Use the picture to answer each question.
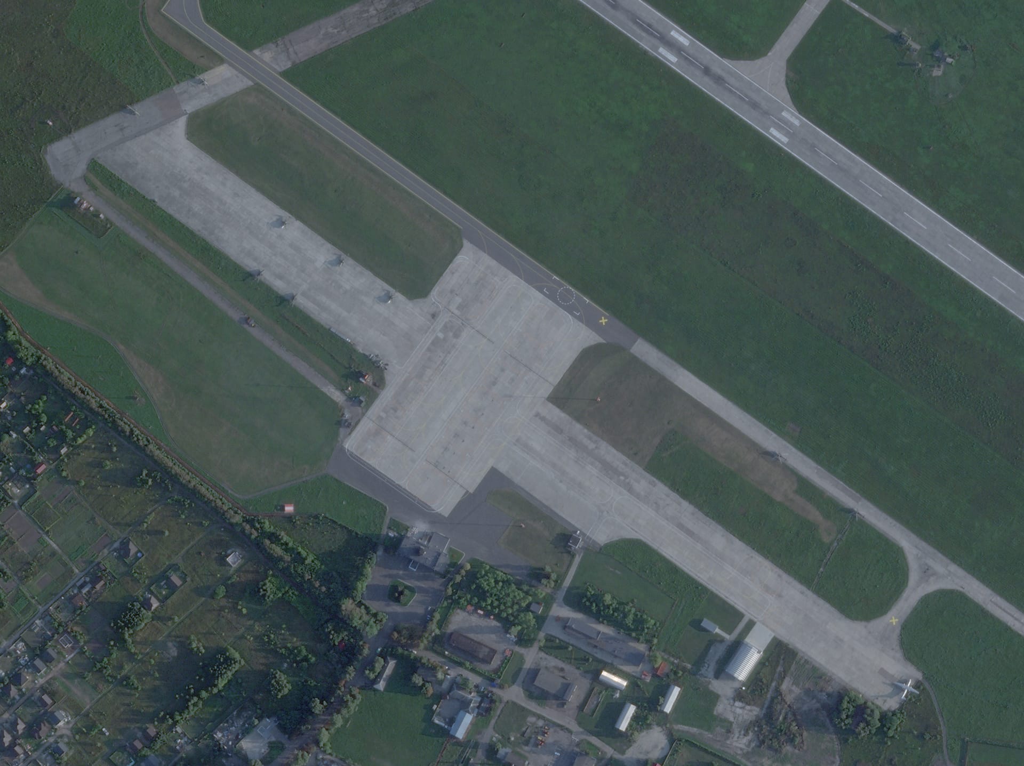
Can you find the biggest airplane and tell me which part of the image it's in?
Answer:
bottom right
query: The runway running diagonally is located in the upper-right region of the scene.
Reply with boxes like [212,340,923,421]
[580,0,1024,321]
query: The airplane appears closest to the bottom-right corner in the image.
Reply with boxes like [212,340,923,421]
[895,679,920,700]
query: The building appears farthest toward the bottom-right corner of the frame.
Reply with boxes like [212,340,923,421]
[726,640,762,682]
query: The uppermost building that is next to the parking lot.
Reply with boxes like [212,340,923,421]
[398,529,450,572]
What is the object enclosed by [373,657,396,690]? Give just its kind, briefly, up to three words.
house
